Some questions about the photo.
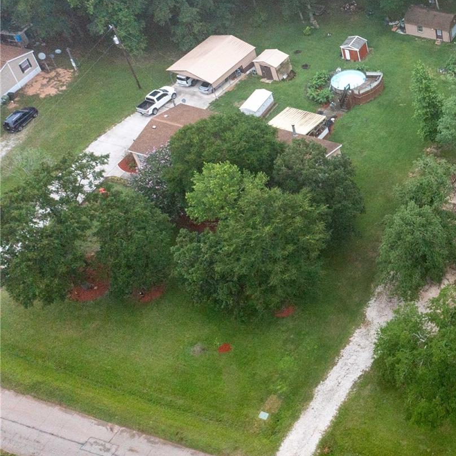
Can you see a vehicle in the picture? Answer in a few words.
Yes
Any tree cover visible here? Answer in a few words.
Yes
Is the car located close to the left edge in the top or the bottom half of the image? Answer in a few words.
top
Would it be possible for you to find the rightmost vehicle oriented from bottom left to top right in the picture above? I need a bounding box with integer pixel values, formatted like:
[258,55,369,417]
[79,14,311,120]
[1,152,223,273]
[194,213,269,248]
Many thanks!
[138,88,176,115]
